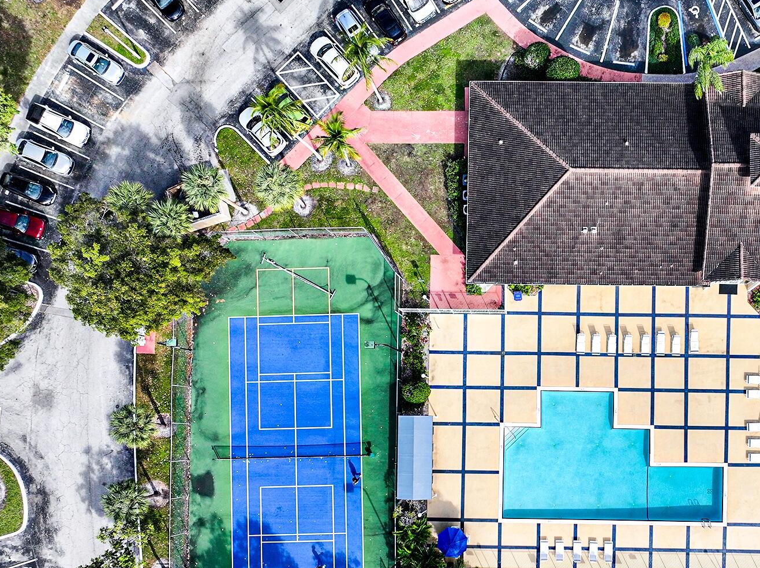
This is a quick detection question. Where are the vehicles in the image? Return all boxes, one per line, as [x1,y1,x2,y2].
[332,8,377,58]
[240,105,289,159]
[312,35,361,93]
[363,0,409,51]
[268,84,313,138]
[68,41,127,88]
[0,169,60,210]
[403,0,436,27]
[0,207,52,243]
[149,0,186,21]
[733,0,760,38]
[17,138,78,178]
[24,102,94,150]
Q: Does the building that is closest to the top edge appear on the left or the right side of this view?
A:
right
